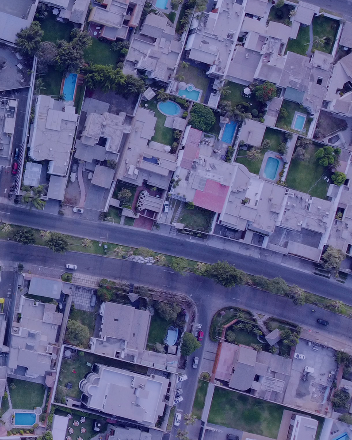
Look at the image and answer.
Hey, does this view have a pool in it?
Yes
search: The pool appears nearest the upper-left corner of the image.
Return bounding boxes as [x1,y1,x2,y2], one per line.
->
[64,71,79,102]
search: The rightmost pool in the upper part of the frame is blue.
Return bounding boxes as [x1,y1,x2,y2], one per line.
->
[293,112,308,132]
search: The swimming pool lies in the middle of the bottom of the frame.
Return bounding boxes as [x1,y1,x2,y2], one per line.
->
[163,325,179,347]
